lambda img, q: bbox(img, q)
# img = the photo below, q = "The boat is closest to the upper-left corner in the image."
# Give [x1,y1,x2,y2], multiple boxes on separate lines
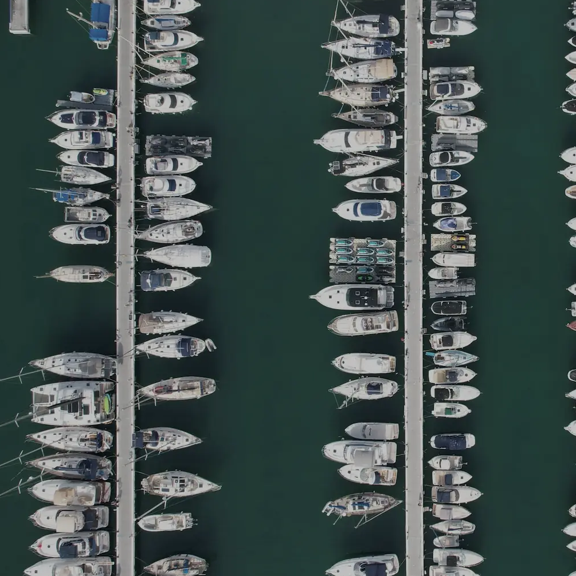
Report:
[66,0,116,52]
